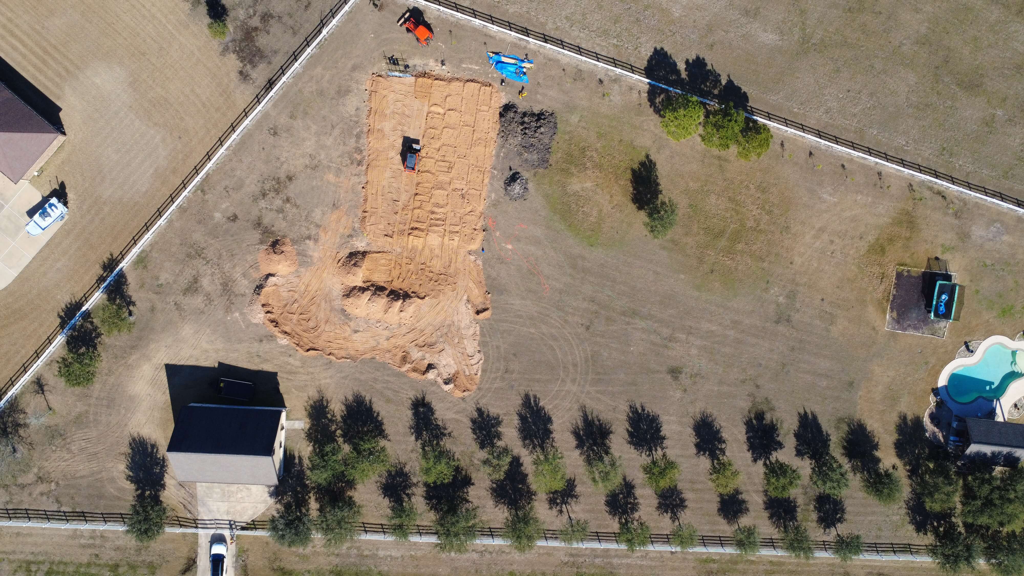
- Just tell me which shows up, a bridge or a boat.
boat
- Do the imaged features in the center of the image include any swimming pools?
No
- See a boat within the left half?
Yes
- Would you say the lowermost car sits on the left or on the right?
left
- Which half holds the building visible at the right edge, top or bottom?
bottom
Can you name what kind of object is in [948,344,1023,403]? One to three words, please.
swimming pool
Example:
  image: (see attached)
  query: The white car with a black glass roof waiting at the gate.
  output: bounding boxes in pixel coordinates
[209,542,229,576]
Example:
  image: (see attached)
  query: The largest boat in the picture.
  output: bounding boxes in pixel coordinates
[29,196,70,240]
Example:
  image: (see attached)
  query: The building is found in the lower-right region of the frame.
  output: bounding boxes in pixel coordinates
[950,417,1024,469]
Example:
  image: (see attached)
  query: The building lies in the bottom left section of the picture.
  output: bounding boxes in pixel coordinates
[164,403,285,486]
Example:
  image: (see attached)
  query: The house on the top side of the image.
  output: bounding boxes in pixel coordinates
[0,83,70,185]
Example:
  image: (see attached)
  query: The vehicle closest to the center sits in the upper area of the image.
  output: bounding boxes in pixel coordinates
[402,146,421,176]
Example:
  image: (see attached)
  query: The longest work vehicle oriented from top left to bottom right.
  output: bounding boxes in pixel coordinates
[402,17,435,49]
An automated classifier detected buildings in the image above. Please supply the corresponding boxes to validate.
[950,417,1024,469]
[0,83,70,185]
[164,403,285,486]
